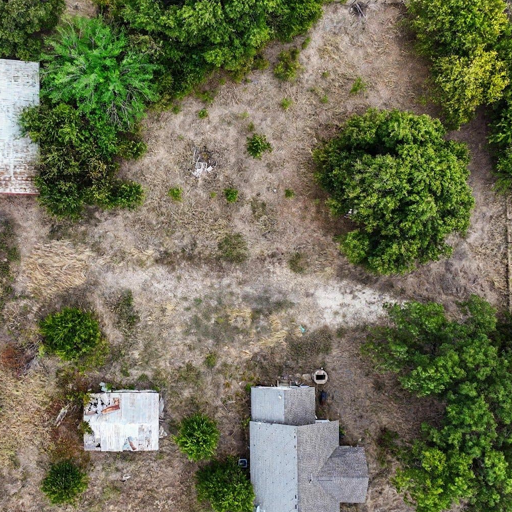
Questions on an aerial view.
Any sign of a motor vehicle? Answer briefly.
No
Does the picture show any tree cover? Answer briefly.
Yes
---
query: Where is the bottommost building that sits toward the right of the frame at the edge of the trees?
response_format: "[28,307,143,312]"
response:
[249,385,368,512]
